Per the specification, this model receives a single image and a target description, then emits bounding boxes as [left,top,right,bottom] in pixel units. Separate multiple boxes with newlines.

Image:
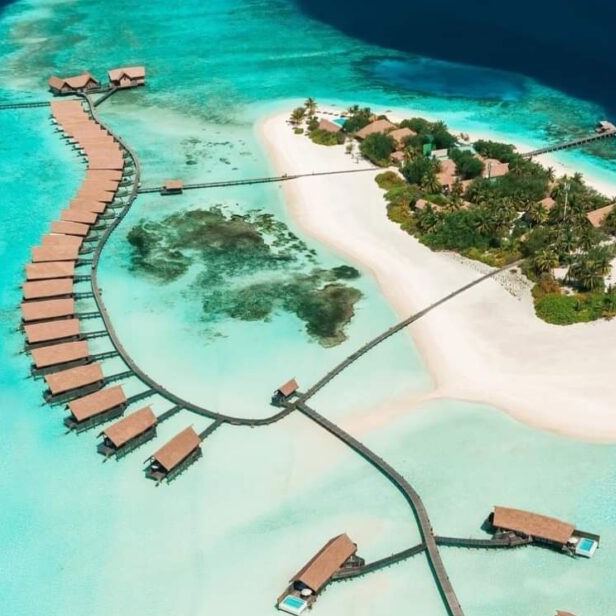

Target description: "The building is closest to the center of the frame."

[270,377,301,408]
